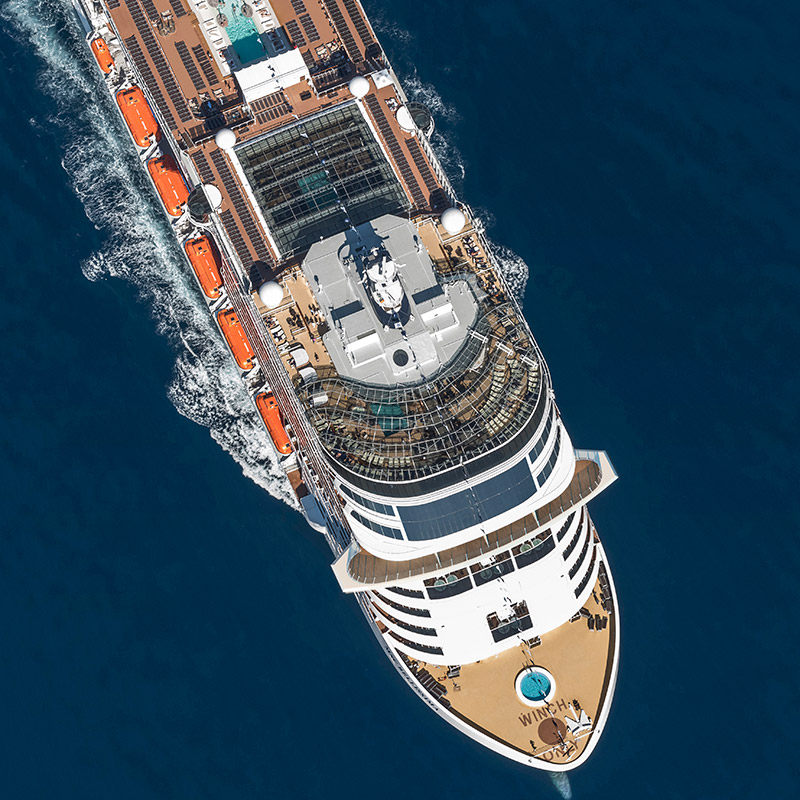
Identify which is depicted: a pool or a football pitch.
pool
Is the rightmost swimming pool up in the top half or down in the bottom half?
bottom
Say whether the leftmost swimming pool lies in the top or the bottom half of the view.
top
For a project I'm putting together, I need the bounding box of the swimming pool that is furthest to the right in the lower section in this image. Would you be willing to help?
[516,667,555,706]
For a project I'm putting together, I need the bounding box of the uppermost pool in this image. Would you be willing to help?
[186,0,295,96]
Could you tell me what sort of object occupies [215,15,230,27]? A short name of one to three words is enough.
umbrella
